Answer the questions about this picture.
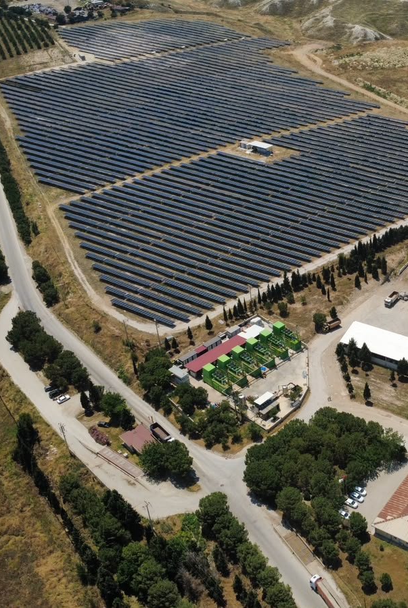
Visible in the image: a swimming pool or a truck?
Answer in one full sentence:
The image shows a truck.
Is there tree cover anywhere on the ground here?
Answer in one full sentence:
Yes, there is tree cover in the image.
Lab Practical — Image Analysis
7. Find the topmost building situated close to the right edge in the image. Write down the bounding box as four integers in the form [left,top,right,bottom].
[338,320,408,379]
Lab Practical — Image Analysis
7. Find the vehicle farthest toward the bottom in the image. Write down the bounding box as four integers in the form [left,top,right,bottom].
[309,568,348,608]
